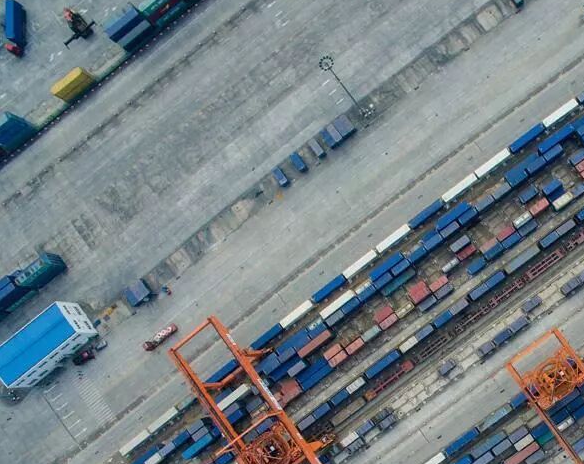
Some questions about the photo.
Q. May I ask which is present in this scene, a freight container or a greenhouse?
freight container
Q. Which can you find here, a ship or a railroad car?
railroad car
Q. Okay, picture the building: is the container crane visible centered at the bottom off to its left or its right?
to the right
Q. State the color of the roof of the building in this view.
blue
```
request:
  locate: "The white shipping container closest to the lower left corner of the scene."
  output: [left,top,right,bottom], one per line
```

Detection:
[111,431,151,462]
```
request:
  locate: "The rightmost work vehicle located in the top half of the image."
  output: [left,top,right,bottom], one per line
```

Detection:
[63,4,98,42]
